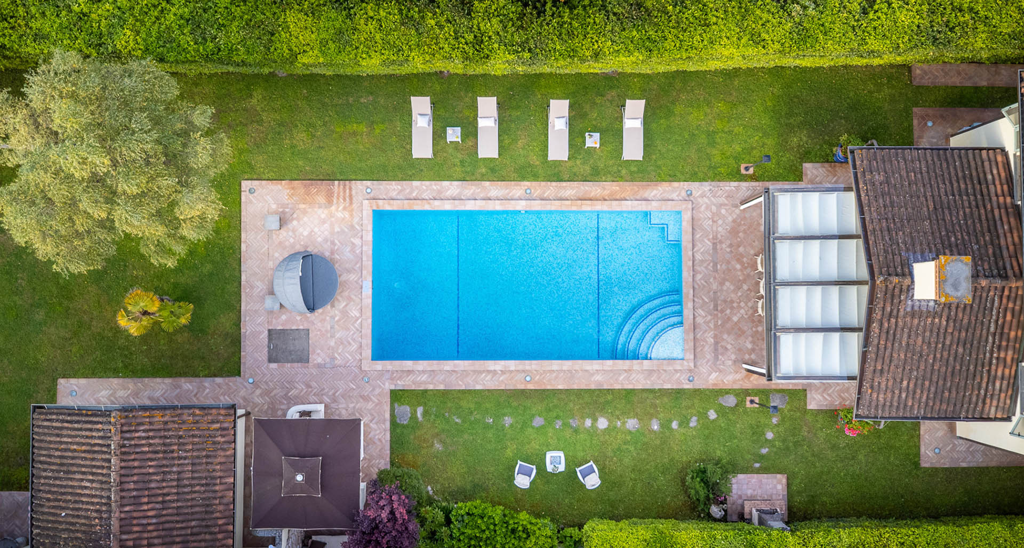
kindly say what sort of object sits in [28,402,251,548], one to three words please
shed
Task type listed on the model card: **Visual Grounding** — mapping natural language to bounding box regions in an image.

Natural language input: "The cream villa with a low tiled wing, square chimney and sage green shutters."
[831,72,1024,460]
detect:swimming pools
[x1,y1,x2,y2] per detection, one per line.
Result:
[362,200,694,370]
